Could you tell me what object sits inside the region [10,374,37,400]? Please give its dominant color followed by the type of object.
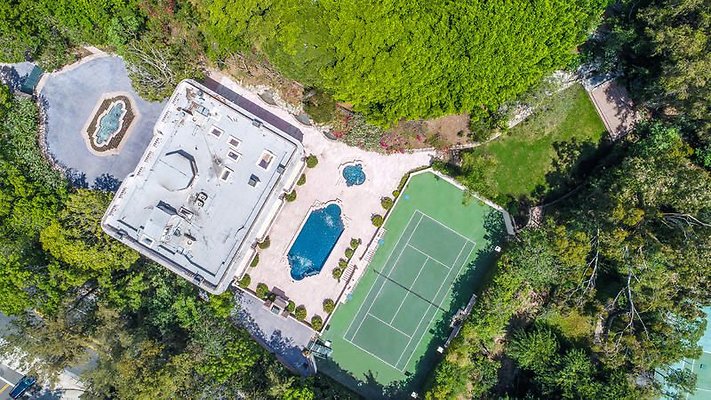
blue car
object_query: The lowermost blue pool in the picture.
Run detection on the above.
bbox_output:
[285,199,346,278]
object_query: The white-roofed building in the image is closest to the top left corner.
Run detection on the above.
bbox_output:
[100,78,309,292]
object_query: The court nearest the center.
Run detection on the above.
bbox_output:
[301,170,513,400]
